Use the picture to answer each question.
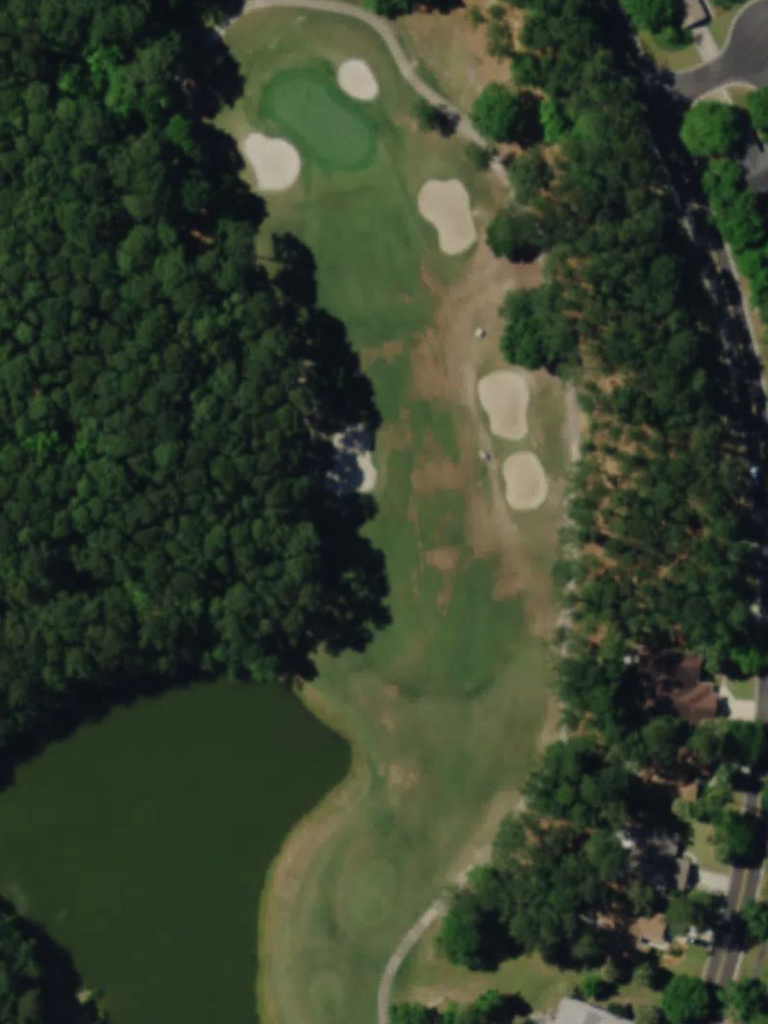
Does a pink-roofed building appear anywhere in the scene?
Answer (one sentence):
No, the frame has no pink-roofed building in it.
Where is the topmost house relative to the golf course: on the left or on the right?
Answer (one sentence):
Relative to the golf course, the topmost house is on the right.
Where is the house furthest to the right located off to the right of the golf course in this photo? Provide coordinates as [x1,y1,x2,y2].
[737,148,768,197]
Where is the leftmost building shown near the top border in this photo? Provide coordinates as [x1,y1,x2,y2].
[672,0,708,29]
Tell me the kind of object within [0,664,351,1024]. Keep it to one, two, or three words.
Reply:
pond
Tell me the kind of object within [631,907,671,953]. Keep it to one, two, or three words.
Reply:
house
